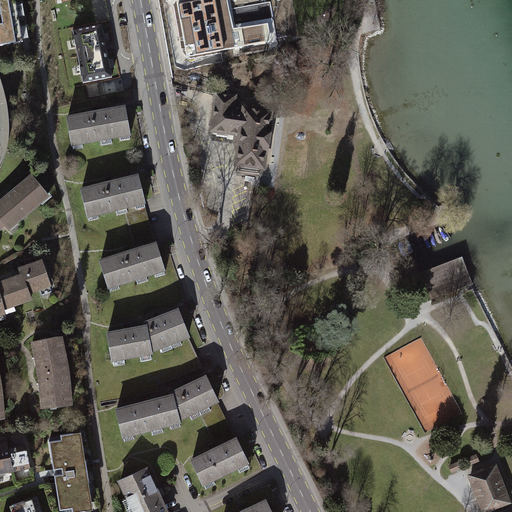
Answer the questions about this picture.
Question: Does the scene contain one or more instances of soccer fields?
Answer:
No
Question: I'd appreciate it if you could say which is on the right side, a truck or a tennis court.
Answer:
tennis court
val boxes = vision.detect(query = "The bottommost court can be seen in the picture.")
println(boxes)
[384,336,462,433]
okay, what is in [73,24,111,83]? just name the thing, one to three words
house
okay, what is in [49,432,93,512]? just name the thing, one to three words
building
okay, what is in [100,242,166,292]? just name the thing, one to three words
house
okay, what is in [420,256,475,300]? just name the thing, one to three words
building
